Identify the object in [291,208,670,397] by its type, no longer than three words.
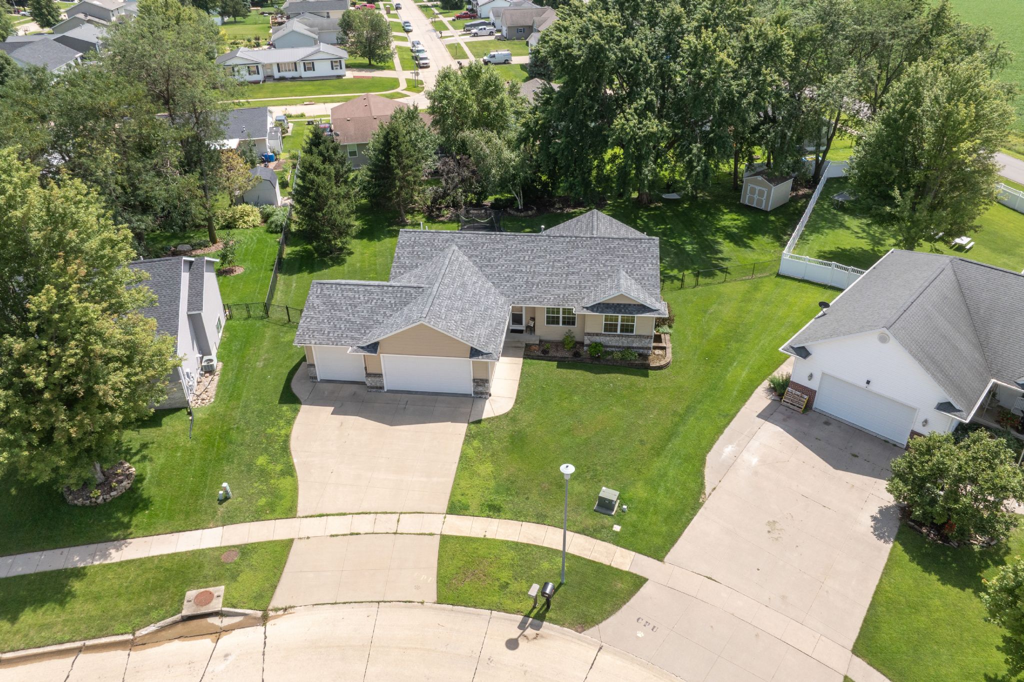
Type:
house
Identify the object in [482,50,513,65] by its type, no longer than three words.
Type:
vehicle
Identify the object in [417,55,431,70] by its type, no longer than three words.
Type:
car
